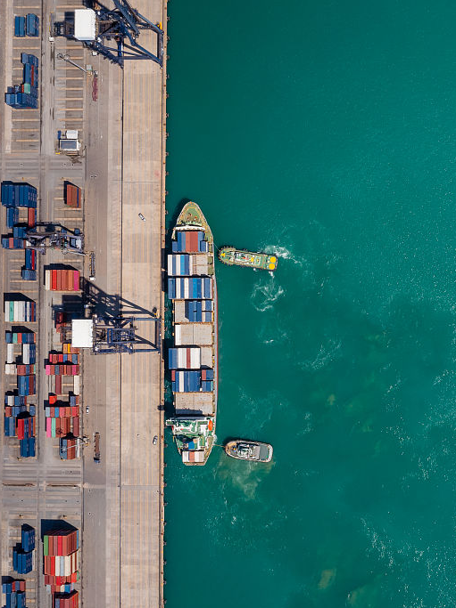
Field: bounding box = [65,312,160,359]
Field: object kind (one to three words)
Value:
container crane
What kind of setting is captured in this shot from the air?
port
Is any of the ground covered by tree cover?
No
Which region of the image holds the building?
top left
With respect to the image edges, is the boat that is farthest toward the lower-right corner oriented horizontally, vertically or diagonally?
horizontally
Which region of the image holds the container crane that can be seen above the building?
top left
